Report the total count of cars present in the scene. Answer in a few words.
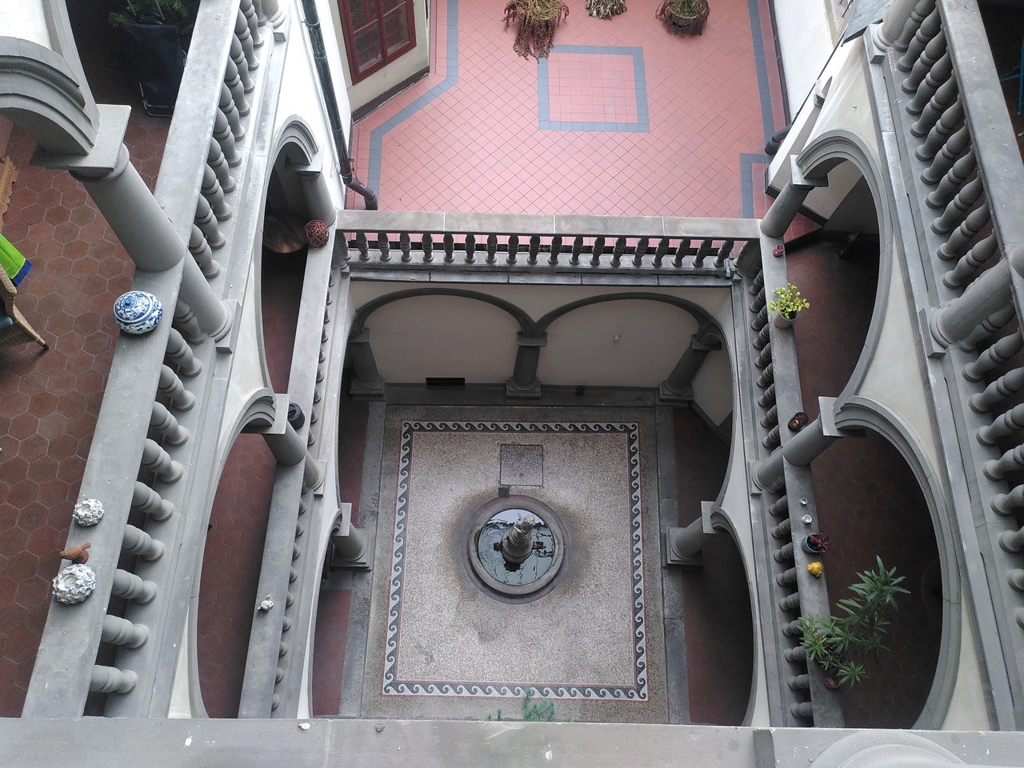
0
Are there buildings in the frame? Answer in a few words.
No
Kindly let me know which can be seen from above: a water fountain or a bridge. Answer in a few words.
water fountain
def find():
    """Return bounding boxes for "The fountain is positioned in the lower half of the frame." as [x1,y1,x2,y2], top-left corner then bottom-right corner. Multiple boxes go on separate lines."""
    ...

[462,496,570,604]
